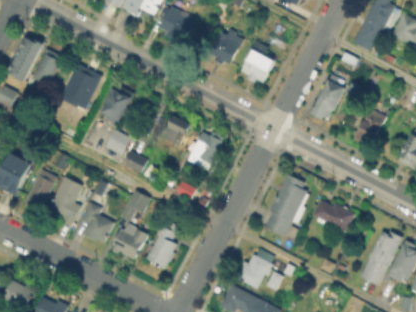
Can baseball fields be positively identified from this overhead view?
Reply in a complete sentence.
No, there is no baseball field in the image.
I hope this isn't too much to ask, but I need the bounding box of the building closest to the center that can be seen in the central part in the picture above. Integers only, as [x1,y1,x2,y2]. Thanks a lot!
[189,133,222,171]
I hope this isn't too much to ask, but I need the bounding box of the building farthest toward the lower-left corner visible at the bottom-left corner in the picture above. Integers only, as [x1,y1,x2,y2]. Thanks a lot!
[6,280,35,302]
